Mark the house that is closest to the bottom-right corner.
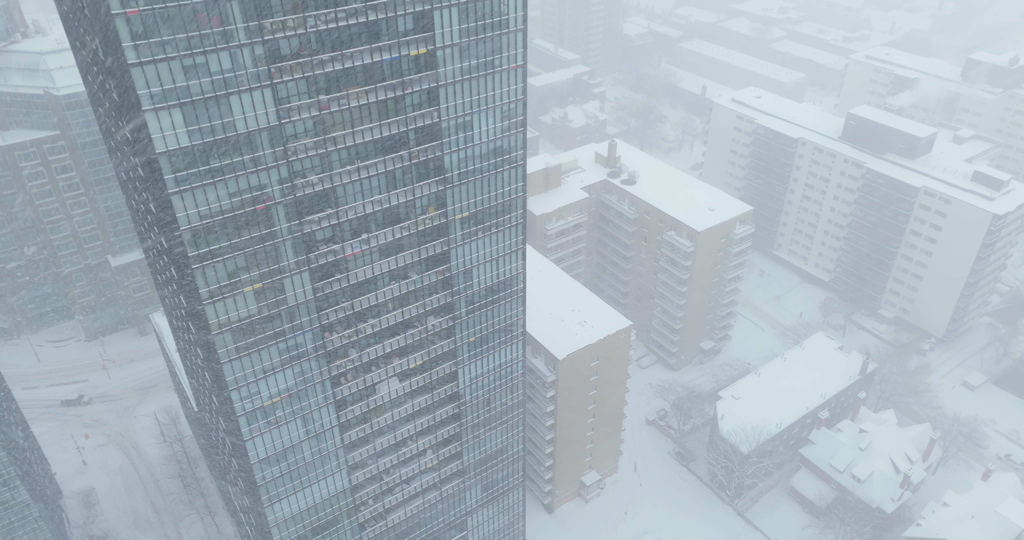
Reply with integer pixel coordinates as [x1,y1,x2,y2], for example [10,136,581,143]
[908,455,1024,540]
